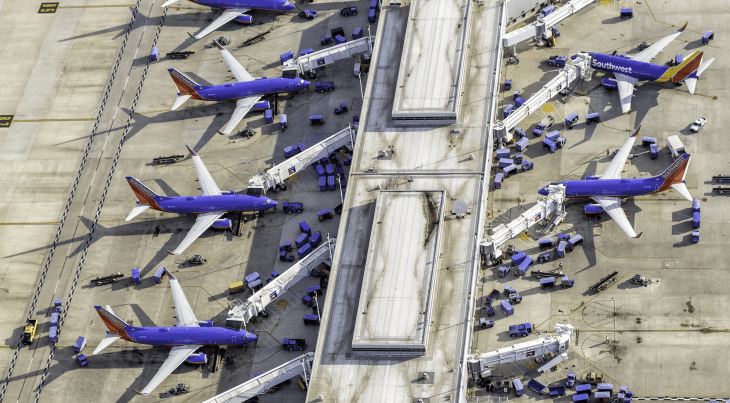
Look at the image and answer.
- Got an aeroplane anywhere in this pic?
Yes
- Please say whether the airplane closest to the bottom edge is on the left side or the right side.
left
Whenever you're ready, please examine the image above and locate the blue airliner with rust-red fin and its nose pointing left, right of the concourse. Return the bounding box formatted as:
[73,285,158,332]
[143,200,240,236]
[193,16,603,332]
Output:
[538,126,692,240]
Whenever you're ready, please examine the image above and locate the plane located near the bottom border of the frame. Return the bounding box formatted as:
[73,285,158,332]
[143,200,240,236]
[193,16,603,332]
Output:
[94,267,259,397]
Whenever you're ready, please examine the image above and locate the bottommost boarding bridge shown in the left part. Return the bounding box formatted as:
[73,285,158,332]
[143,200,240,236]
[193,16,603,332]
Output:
[196,350,318,403]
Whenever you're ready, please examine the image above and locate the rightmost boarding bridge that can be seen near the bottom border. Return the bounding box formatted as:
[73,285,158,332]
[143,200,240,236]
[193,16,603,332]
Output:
[466,324,580,390]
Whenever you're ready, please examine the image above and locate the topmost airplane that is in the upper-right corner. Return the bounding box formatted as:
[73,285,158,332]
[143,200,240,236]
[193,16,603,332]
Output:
[571,21,714,117]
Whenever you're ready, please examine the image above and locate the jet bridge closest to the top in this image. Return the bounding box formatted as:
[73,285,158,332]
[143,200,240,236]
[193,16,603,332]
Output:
[500,0,605,59]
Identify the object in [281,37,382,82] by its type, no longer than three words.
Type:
jet bridge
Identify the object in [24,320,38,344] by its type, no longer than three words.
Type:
vehicle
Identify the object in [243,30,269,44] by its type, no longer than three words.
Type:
work vehicle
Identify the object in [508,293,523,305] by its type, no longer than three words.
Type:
vehicle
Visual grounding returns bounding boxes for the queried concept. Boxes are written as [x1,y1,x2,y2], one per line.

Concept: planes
[538,126,692,240]
[94,267,259,397]
[167,40,311,137]
[125,145,279,257]
[162,0,295,40]
[571,21,714,117]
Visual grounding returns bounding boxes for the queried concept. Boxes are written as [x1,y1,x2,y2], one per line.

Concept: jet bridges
[228,234,341,328]
[500,0,605,59]
[479,190,568,272]
[466,324,580,390]
[196,350,318,403]
[249,123,364,195]
[491,54,592,148]
[281,37,382,82]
